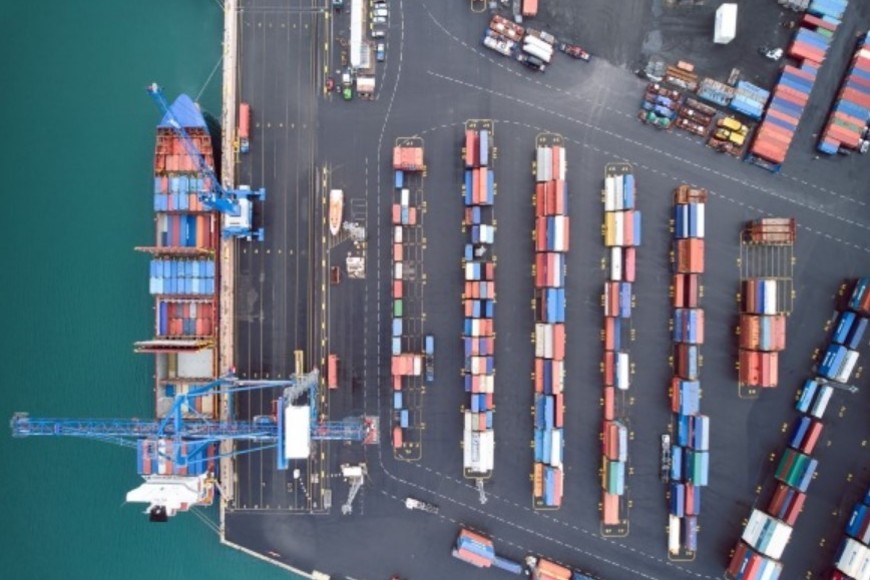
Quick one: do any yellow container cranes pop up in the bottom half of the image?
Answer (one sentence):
No, looking in the bottom half of the image, there is no yellow container crane.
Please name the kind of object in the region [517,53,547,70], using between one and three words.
vehicle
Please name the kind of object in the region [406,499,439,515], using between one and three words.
vehicle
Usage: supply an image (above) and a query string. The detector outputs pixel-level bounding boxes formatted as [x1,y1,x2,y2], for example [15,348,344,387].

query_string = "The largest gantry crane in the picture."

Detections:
[11,367,377,469]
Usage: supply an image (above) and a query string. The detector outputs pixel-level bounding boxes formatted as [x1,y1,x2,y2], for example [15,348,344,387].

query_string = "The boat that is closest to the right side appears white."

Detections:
[329,189,342,235]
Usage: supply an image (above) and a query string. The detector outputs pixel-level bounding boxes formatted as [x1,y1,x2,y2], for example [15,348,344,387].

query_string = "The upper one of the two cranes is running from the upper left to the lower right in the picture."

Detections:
[146,86,267,241]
